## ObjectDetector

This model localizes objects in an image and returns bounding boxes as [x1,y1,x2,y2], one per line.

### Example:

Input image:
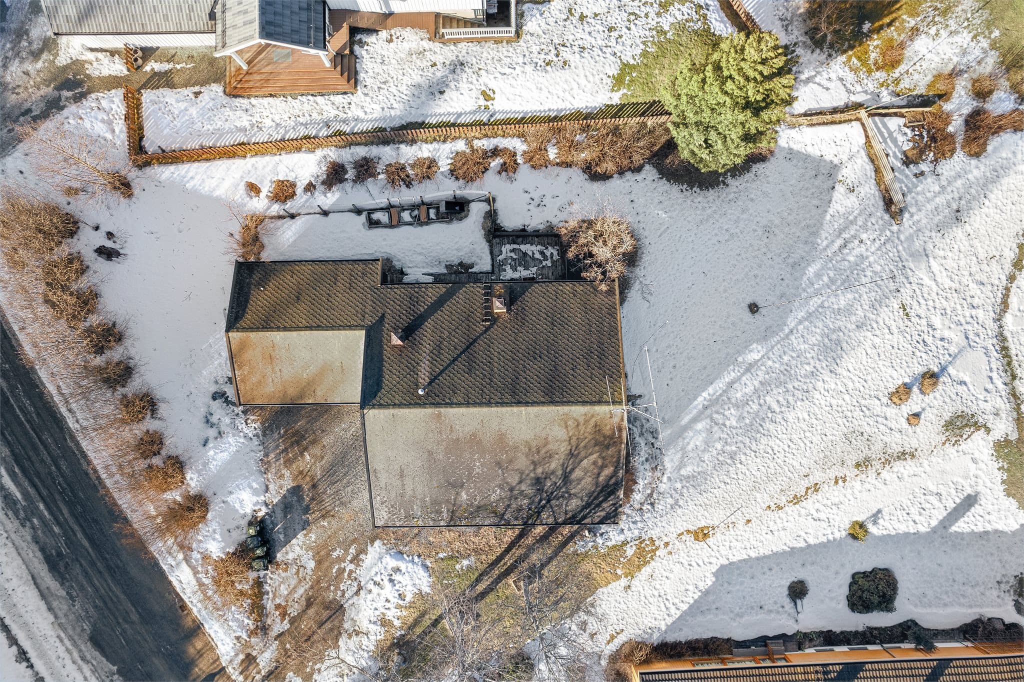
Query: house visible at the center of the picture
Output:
[223,258,629,529]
